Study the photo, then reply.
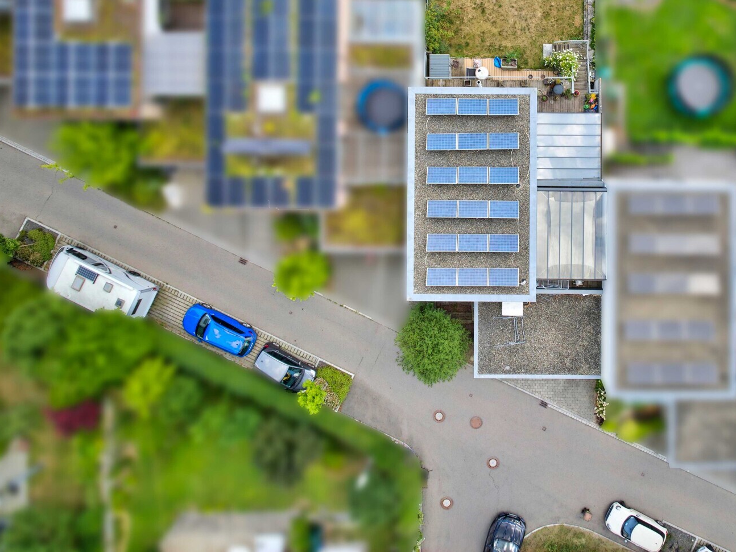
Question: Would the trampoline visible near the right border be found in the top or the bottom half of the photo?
top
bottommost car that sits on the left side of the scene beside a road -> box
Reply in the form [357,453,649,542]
[250,341,317,395]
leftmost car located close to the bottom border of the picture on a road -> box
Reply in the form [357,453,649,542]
[485,511,526,552]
